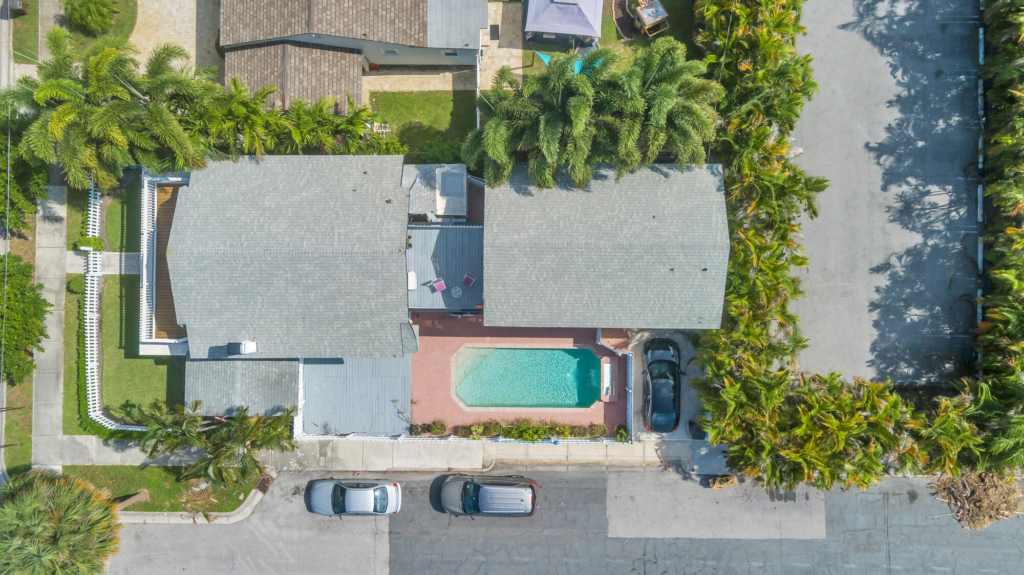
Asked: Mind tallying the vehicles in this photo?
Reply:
three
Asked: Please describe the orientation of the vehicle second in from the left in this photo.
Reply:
from side to side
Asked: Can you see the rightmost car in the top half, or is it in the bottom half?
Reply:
bottom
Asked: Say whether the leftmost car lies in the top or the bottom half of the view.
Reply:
bottom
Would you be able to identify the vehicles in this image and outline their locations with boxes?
[641,337,683,434]
[440,470,538,517]
[311,475,403,518]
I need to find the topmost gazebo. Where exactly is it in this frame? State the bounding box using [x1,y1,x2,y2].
[524,0,601,50]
